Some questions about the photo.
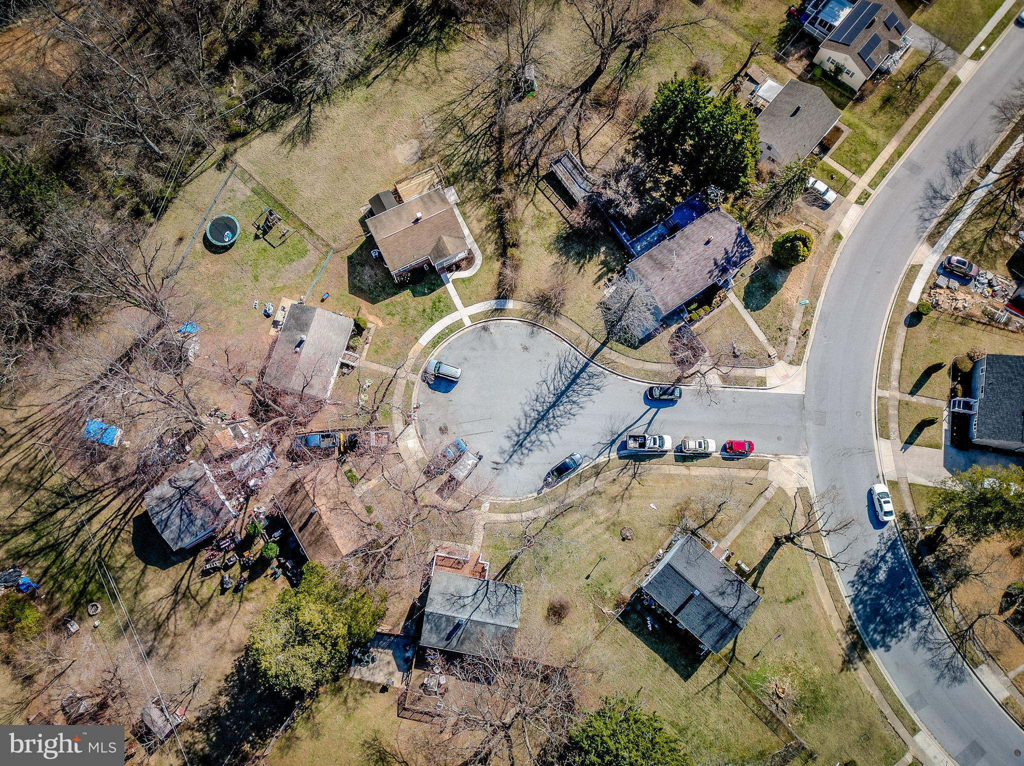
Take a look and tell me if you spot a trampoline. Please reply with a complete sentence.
Yes, I can see a trampoline in this picture.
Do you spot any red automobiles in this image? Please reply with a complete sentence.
Yes, the frame does contain a red automobile.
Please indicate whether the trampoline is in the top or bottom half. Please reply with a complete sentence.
You can find the trampoline in the top half.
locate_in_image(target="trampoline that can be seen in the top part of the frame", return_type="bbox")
[206,213,240,246]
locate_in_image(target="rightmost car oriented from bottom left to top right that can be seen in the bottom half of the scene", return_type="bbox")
[544,452,583,487]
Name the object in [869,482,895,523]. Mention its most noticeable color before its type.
white car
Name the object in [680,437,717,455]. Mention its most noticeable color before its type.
white car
